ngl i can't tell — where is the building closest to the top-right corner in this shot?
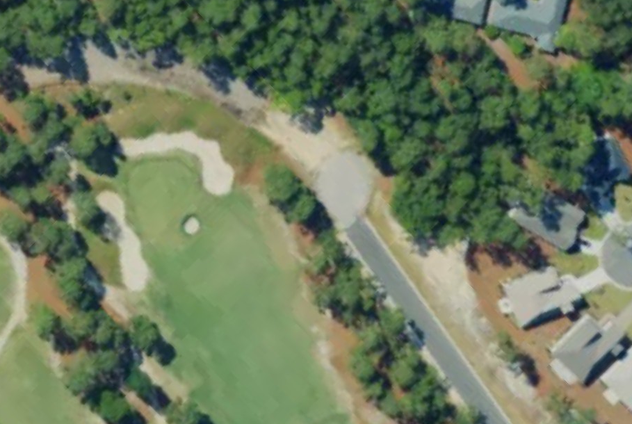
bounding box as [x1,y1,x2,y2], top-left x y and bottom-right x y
[484,0,565,53]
